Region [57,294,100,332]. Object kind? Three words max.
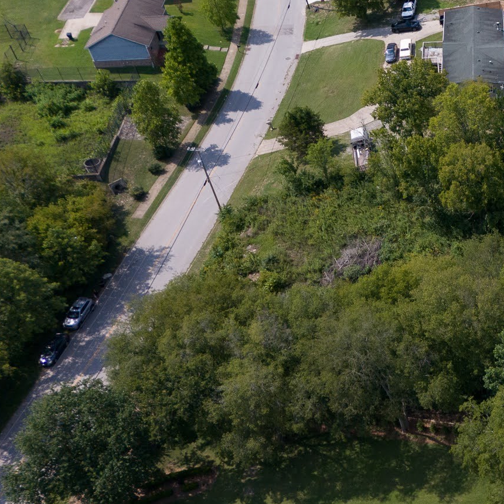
car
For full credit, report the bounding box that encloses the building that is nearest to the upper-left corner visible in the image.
[80,0,177,70]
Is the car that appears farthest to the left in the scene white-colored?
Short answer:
No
